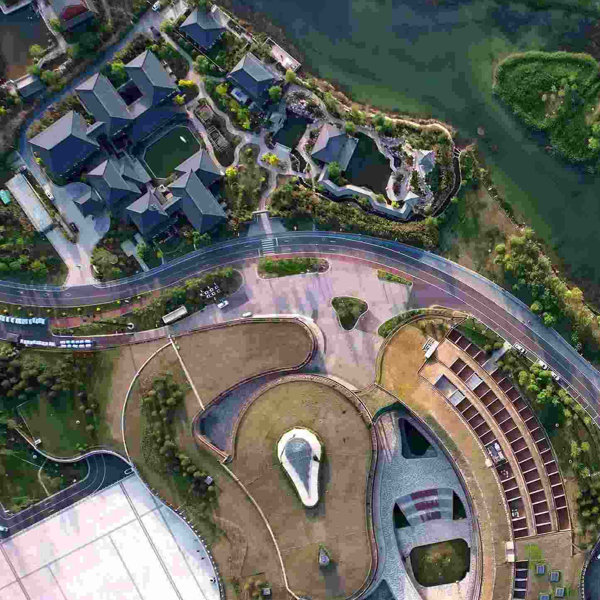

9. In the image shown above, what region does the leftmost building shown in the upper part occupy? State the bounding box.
[16,72,50,98]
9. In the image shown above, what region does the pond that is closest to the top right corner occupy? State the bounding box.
[344,134,391,194]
